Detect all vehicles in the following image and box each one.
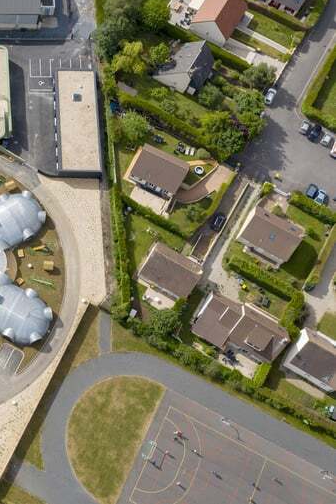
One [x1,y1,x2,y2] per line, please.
[298,120,312,135]
[264,89,277,104]
[327,143,336,158]
[314,189,329,206]
[308,125,322,141]
[211,212,227,232]
[304,183,318,199]
[318,133,333,148]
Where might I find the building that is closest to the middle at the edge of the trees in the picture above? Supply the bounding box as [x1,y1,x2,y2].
[136,241,204,300]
